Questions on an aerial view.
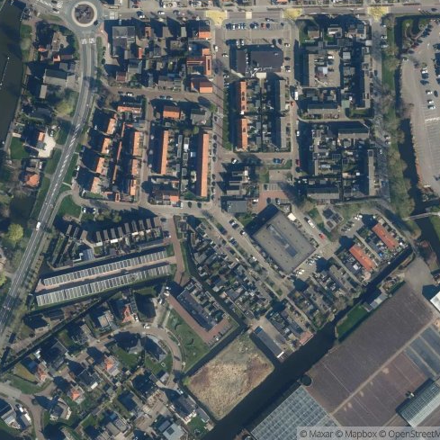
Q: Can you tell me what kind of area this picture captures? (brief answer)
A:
residential area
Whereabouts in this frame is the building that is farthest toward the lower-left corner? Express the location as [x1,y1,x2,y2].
[0,398,20,424]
